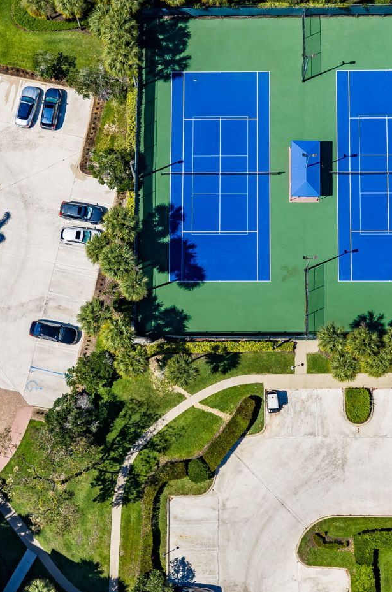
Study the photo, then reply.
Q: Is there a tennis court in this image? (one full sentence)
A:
Yes, looking at the shot, I can spot a tennis court.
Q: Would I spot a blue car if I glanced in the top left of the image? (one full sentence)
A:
Yes, looking in the top left of the image, one can make out a blue car.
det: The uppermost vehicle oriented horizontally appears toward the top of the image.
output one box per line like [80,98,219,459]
[57,200,104,226]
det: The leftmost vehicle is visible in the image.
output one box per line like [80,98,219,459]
[14,86,41,128]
